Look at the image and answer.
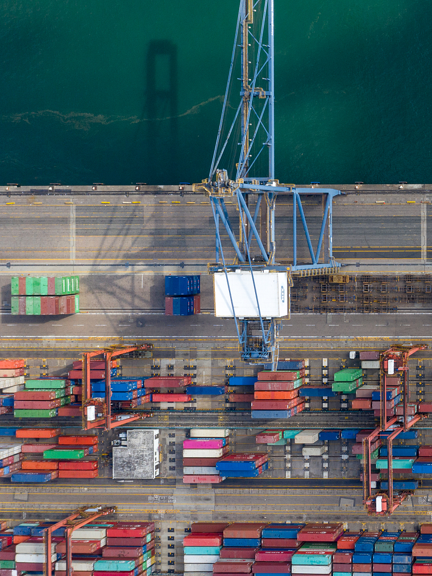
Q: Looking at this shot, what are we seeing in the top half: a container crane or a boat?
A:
container crane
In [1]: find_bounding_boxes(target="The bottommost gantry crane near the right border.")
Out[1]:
[363,423,417,518]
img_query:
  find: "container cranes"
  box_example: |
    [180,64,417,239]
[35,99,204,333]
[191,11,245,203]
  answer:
[363,423,417,518]
[379,344,432,438]
[81,344,156,437]
[189,0,351,371]
[40,507,117,576]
